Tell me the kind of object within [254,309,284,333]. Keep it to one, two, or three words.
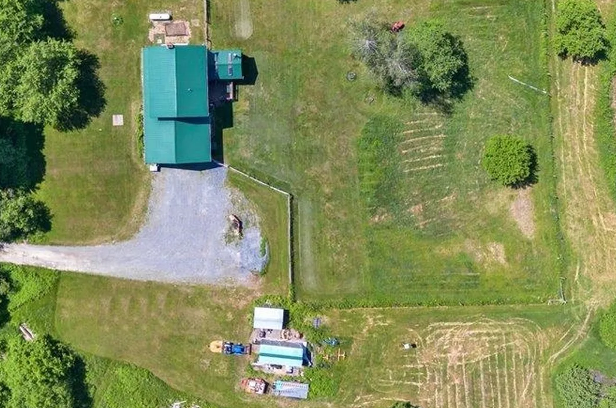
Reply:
shed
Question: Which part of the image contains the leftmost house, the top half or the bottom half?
top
